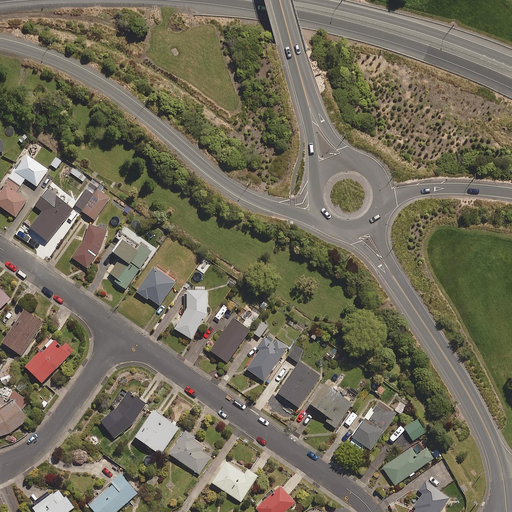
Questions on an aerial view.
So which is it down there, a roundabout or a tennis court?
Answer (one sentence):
It is a roundabout that can be seen here.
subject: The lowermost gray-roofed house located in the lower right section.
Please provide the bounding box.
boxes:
[410,481,449,512]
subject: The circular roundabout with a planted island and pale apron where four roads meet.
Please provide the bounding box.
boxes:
[310,158,386,234]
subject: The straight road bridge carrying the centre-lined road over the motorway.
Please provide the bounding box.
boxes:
[264,0,306,56]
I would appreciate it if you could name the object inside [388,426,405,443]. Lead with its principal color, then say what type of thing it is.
white camper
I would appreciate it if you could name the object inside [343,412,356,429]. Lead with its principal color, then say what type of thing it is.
white vehicle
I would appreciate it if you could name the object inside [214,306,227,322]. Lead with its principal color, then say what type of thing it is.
white vehicle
